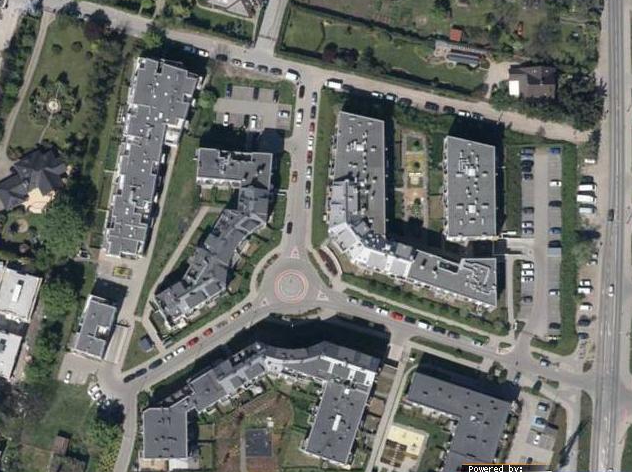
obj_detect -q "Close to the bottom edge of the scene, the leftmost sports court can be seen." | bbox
[245,427,271,457]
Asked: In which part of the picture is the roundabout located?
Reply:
center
